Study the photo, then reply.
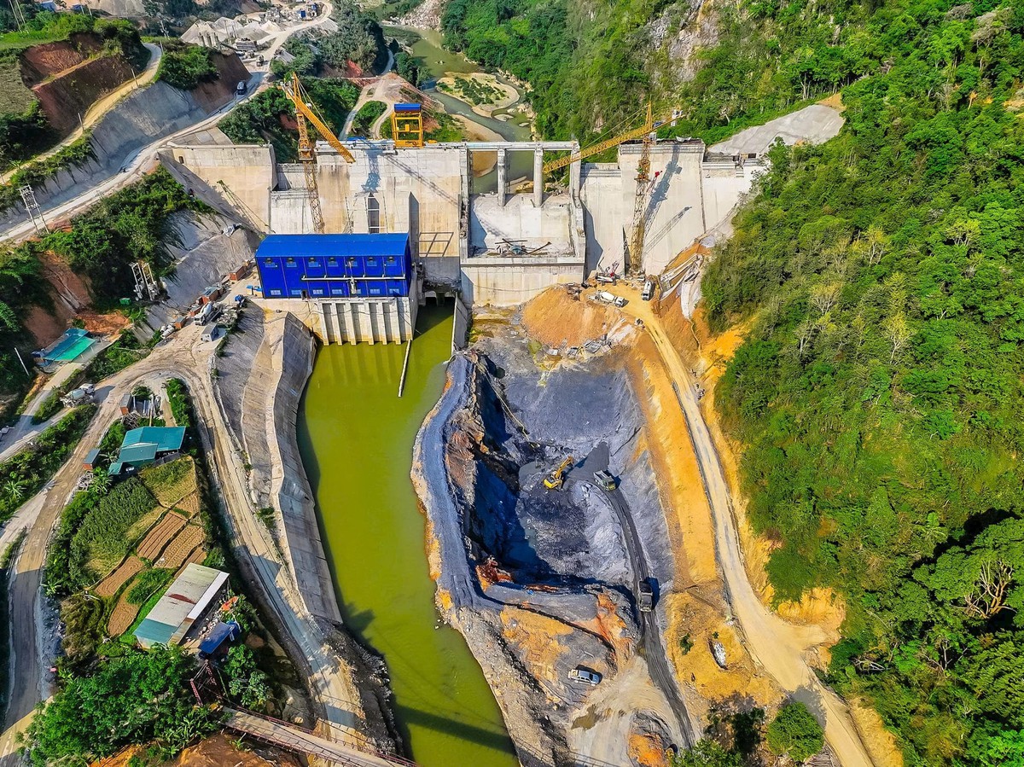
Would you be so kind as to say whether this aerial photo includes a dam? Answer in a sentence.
Yes, the image includes a dam.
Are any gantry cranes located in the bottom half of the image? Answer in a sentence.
No, looking in the bottom half of the image, there is no gantry crane.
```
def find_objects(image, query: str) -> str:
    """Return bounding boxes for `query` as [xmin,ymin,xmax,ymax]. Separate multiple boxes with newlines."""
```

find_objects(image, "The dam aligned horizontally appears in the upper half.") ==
[151,134,783,320]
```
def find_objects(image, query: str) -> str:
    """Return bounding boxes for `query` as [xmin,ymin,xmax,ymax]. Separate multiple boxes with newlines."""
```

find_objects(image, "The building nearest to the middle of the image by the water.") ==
[253,234,427,346]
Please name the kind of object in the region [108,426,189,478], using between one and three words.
house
